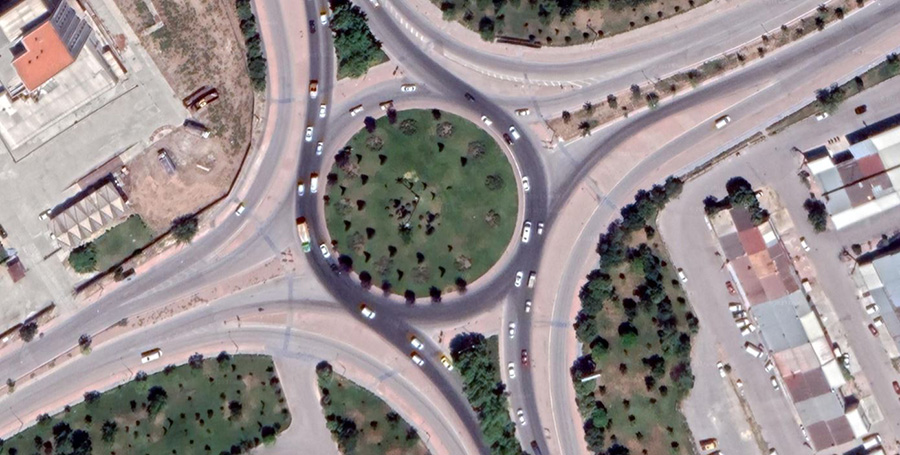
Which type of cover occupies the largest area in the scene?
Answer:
paved ground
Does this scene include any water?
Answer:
No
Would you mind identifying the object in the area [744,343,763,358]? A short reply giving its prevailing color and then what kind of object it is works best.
white vehicle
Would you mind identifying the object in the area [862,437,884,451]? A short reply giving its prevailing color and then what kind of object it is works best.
white vehicle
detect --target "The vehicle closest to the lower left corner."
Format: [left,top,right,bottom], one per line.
[140,349,163,363]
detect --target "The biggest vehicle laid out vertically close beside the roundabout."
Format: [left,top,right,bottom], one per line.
[296,219,311,254]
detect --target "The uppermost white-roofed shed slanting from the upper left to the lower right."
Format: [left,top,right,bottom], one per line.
[104,47,127,77]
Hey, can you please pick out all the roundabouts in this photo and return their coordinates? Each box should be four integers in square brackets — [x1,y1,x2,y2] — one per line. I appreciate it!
[316,0,548,321]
